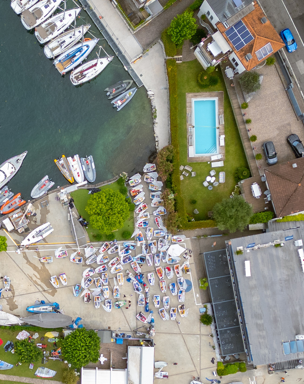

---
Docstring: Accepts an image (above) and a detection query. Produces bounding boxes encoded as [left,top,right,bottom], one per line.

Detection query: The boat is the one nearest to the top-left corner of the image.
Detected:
[8,0,37,20]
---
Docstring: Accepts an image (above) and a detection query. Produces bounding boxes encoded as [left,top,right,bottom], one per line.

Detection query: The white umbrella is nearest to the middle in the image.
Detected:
[168,245,186,257]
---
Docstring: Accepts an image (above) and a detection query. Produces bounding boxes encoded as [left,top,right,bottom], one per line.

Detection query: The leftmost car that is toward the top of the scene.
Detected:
[262,139,278,166]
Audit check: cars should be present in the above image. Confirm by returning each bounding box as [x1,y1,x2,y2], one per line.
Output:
[287,133,304,158]
[279,27,297,54]
[262,139,278,166]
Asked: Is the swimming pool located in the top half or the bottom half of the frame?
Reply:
top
